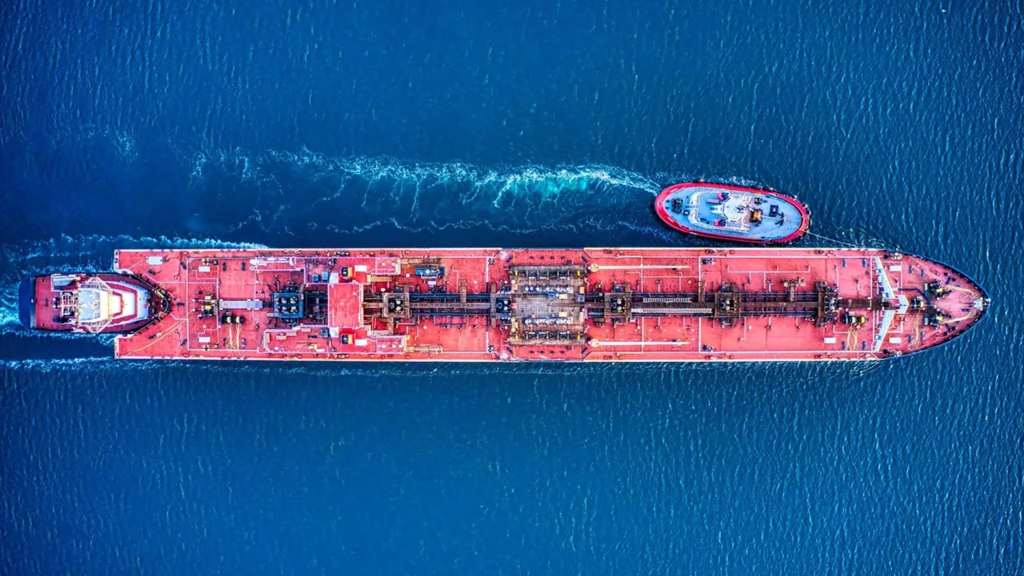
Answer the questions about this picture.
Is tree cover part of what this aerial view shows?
No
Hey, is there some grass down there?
No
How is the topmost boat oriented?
from side to side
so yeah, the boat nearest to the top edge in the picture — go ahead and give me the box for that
[652,179,813,248]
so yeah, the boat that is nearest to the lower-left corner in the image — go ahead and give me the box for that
[17,273,166,335]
